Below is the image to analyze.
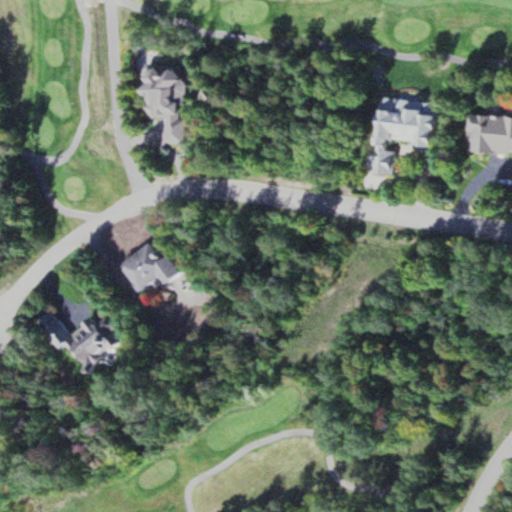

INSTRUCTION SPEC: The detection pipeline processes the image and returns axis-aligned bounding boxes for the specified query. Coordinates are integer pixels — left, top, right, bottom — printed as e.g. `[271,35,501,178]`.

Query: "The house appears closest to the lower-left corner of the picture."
[36,314,118,378]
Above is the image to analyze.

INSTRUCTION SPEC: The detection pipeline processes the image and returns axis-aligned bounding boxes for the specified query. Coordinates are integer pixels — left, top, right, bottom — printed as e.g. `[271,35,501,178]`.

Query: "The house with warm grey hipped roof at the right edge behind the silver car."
[467,112,512,150]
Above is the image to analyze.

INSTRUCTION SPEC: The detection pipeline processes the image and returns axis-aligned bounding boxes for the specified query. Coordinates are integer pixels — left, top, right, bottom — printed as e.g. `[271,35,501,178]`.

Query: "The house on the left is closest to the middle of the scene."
[119,246,182,291]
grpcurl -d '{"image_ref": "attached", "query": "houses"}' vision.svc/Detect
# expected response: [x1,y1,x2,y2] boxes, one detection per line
[467,112,512,150]
[134,64,186,144]
[36,314,118,378]
[370,96,434,172]
[119,246,182,291]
